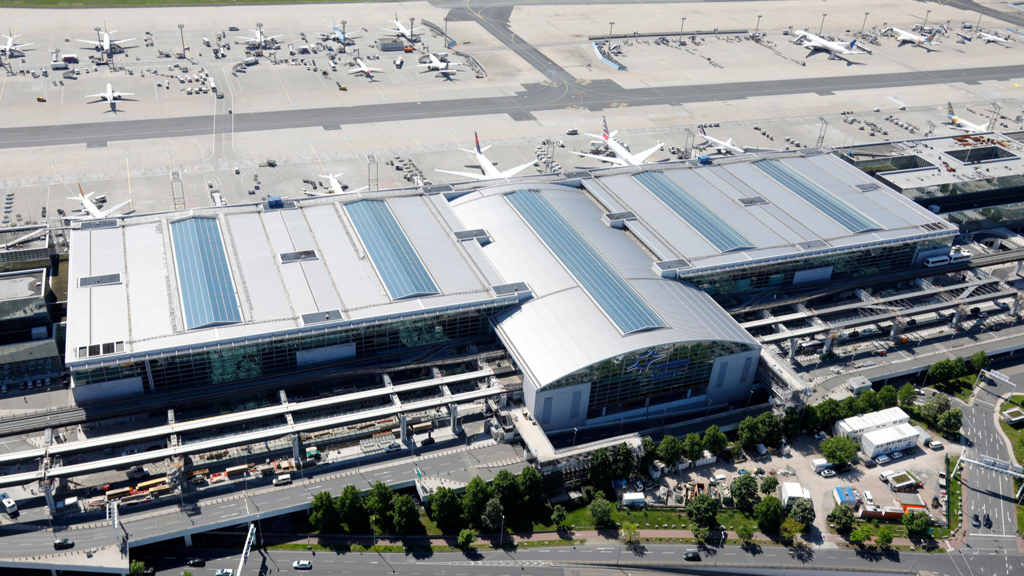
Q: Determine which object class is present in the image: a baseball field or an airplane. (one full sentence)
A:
There is an airplane in the scene.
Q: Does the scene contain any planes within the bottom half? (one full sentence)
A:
No, I see no plane within the bottom half.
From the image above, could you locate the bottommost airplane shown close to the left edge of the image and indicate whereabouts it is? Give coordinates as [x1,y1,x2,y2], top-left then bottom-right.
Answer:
[42,175,137,219]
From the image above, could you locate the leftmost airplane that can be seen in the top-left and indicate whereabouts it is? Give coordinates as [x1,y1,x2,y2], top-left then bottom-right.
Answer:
[0,19,41,58]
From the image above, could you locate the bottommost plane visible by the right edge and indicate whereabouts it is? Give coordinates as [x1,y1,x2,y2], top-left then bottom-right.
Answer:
[944,100,1012,138]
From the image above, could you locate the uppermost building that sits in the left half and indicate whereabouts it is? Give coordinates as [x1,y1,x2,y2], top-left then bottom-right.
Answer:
[374,31,405,50]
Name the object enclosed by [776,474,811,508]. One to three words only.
building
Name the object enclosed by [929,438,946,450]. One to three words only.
vehicle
